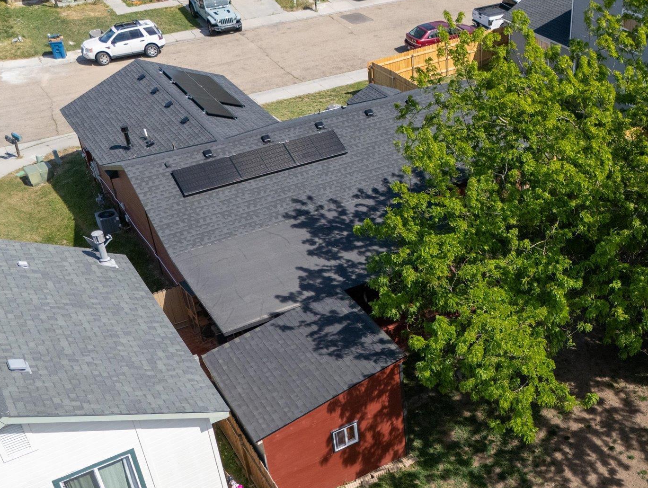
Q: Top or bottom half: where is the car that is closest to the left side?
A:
top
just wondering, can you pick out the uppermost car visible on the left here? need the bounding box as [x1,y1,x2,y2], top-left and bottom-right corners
[189,0,237,31]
